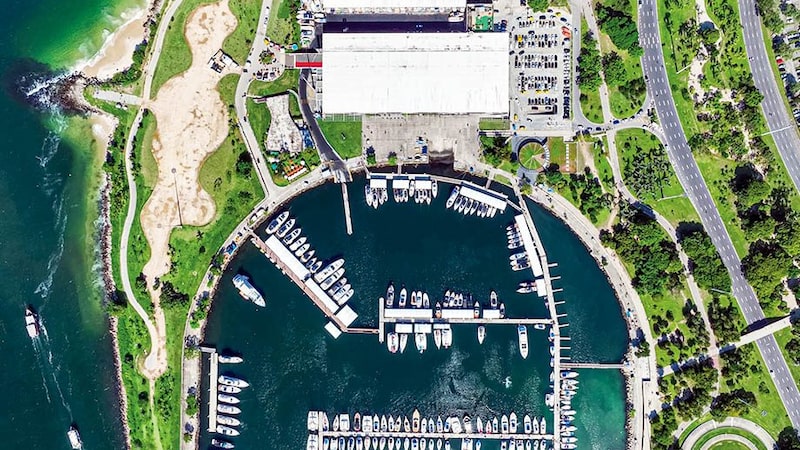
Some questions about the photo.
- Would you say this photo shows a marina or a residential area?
marina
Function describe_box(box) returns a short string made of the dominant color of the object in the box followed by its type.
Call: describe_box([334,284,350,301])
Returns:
white boat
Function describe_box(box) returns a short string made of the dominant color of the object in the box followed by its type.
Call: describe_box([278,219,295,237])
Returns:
white boat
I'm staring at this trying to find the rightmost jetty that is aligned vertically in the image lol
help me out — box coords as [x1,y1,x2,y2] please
[513,189,561,450]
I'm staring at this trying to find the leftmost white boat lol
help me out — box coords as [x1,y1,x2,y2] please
[27,308,40,339]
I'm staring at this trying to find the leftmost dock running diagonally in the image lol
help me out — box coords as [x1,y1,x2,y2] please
[252,234,348,331]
